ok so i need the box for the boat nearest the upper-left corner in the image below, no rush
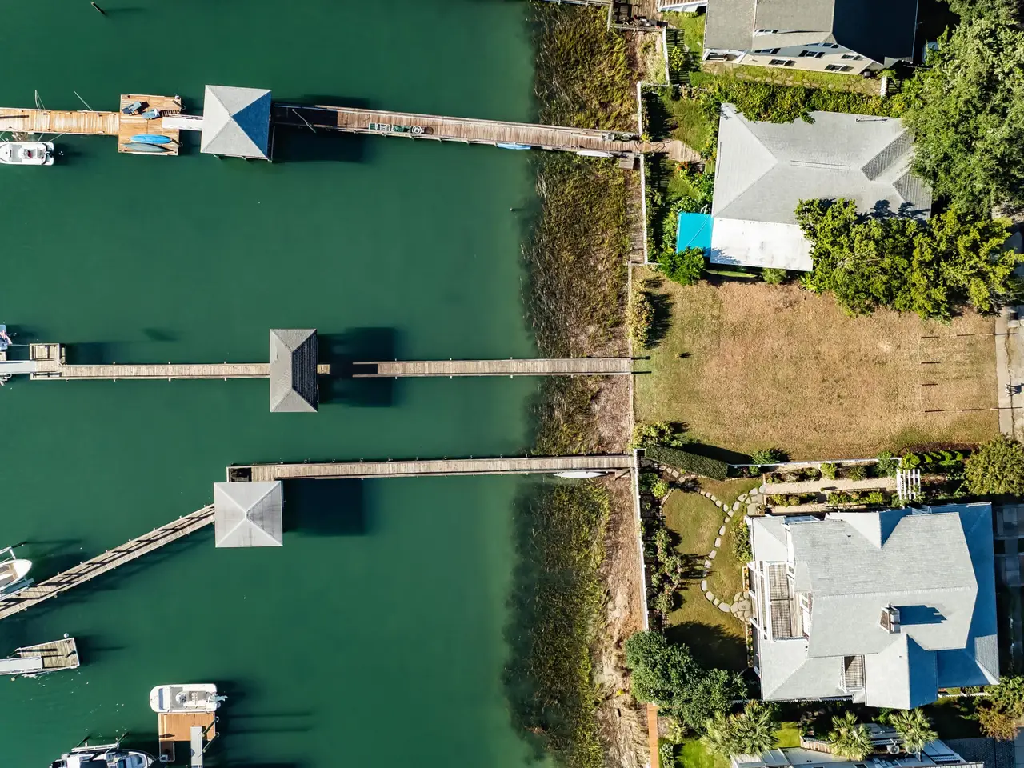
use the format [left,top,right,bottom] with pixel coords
[0,141,70,166]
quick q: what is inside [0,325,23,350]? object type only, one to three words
boat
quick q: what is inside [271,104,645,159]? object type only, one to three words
pier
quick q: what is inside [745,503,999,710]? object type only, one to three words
house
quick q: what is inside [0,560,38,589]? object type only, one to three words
boat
